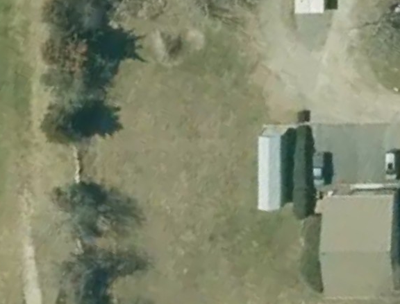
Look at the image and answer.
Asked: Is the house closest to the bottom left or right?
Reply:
right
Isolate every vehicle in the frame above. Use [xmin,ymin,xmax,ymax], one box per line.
[385,148,398,176]
[312,153,325,181]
